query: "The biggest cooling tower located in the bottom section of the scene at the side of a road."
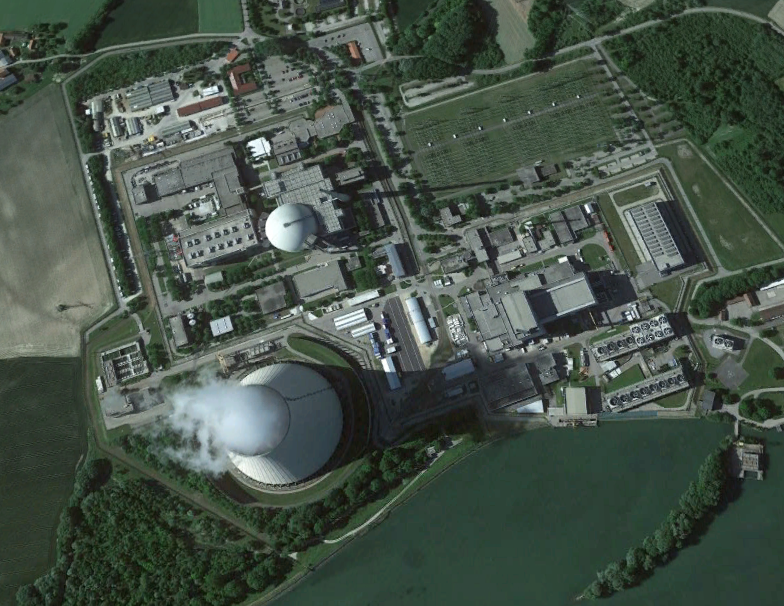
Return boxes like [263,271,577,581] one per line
[215,360,344,487]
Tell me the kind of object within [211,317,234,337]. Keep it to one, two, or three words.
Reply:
building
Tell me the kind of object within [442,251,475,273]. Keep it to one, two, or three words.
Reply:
building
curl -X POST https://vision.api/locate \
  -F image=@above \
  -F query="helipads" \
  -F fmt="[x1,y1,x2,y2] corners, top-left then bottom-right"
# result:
[714,357,749,389]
